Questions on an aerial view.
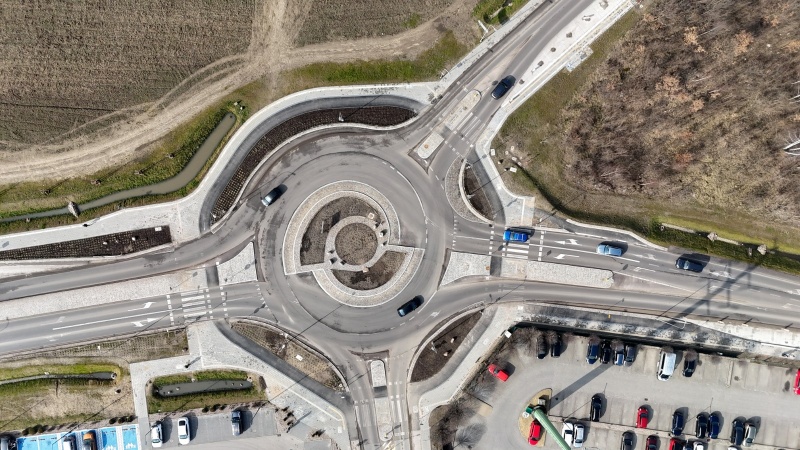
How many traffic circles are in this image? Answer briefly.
one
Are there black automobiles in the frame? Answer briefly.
Yes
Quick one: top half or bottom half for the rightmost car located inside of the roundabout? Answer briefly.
bottom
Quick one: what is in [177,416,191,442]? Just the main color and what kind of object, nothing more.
white vehicle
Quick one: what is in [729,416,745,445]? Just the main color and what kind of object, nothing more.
black car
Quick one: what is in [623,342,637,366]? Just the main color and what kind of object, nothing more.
black car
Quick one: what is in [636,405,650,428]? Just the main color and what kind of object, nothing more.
red car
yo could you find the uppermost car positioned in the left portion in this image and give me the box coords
[260,184,284,208]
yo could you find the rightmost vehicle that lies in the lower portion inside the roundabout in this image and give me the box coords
[398,295,423,316]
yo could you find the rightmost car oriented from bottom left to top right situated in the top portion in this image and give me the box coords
[490,75,515,100]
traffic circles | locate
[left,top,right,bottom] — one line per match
[233,126,449,352]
